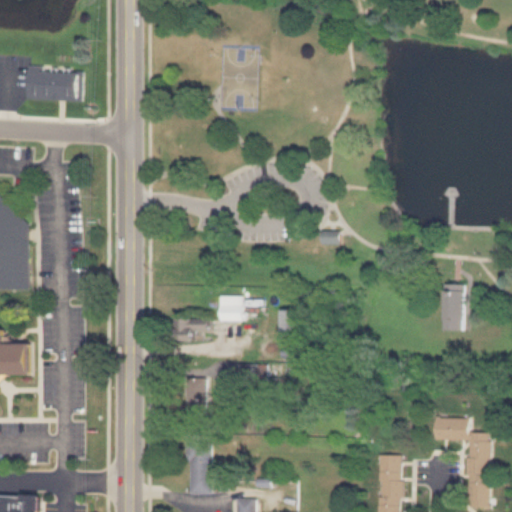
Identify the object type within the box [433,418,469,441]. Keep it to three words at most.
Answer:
building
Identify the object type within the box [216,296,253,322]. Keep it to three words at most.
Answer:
barn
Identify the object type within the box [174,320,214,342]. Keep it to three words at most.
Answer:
house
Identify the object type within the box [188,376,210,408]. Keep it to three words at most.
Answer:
building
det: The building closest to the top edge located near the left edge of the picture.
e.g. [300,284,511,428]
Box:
[22,65,89,102]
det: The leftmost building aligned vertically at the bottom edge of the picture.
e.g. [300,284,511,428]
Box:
[379,455,407,512]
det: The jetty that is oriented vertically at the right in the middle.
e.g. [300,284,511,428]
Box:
[444,187,459,230]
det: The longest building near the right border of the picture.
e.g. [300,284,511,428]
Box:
[468,433,492,510]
